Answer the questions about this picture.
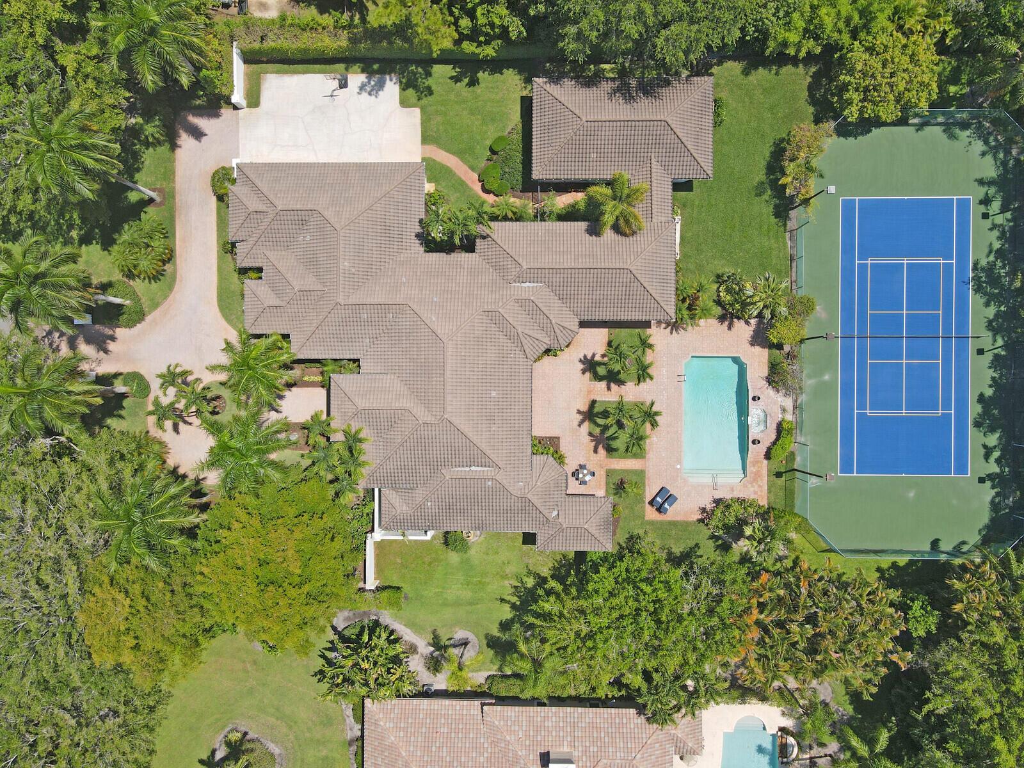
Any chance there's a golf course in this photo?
No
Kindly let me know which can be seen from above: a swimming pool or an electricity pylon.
swimming pool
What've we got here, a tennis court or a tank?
tennis court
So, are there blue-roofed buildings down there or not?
No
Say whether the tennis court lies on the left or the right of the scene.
right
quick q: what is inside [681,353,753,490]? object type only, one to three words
swimming pool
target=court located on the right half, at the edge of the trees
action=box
[796,126,1015,550]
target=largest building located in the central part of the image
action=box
[227,161,677,551]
